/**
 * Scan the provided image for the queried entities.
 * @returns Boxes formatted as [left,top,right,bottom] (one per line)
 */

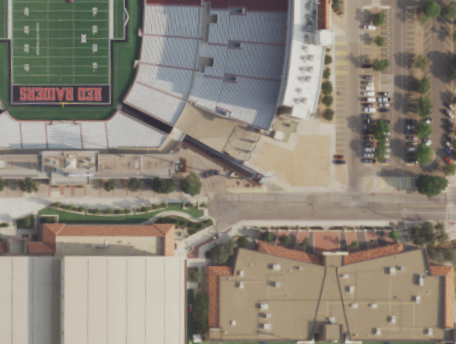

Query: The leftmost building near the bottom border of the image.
[0,254,186,344]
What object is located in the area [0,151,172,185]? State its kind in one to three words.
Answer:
building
